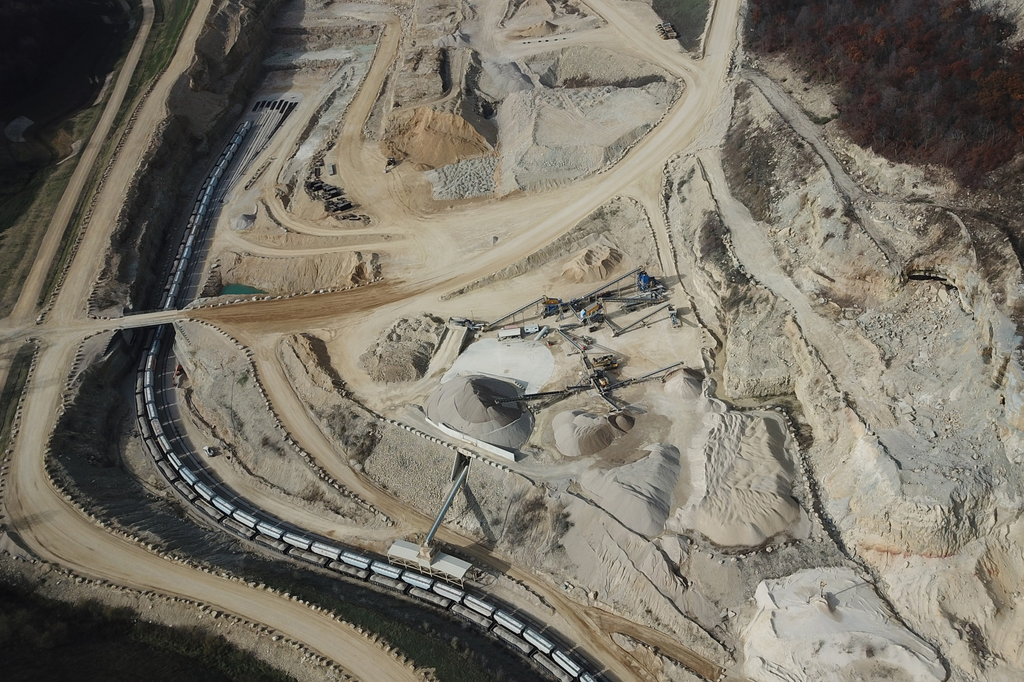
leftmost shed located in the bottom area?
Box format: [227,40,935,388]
[384,535,470,590]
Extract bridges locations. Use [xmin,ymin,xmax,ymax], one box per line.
[102,307,190,356]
